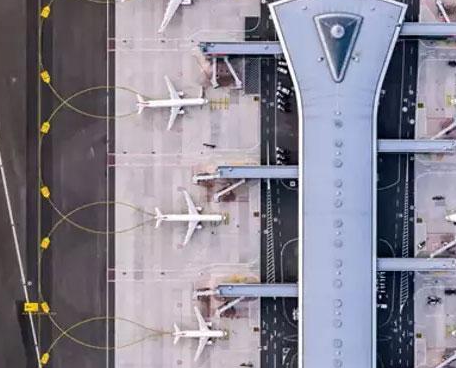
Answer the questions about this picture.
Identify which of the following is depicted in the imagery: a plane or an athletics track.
plane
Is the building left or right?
right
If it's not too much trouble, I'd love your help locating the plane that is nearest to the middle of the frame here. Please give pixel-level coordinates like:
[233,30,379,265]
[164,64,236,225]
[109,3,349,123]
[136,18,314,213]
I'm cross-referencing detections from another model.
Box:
[155,189,226,246]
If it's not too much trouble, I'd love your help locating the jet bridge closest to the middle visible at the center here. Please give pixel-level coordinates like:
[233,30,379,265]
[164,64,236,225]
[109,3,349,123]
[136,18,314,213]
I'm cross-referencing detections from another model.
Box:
[191,166,299,202]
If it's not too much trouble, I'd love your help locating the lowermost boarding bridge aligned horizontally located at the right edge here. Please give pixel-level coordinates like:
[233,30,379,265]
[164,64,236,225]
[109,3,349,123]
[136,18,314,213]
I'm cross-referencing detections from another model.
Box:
[377,236,456,271]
